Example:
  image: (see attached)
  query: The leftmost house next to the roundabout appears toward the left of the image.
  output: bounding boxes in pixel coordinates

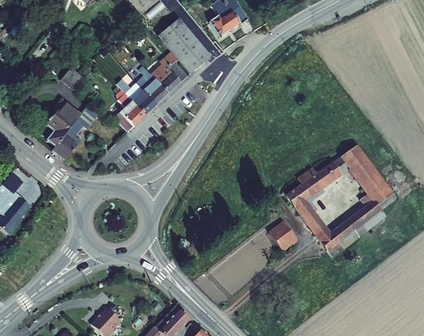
[0,174,39,235]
